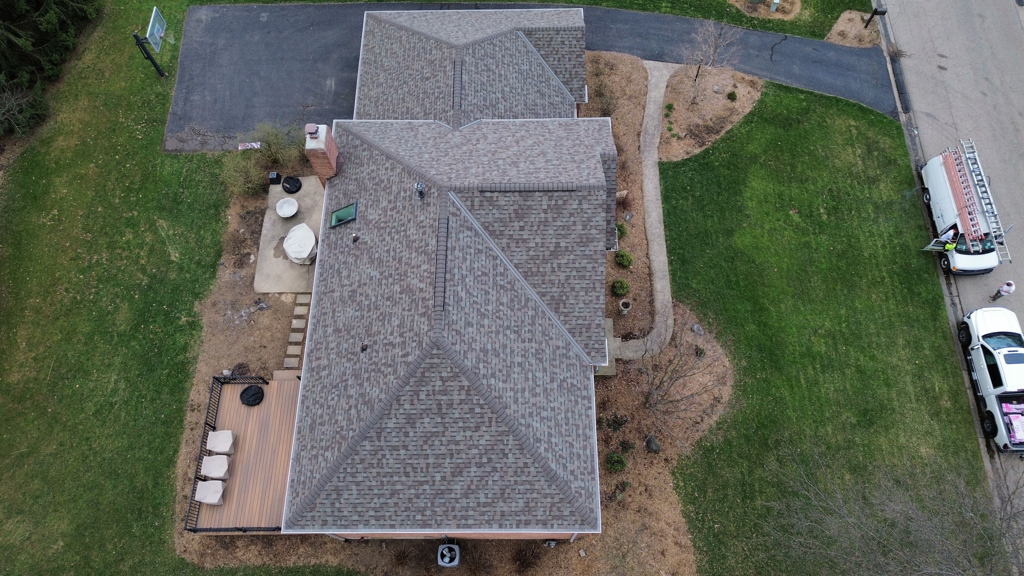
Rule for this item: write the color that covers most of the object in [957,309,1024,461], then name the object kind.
white truck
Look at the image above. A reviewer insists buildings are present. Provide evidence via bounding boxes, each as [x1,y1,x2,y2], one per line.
[281,9,618,545]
